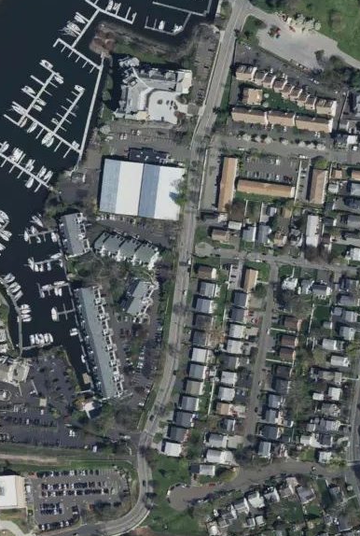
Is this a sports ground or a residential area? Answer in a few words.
residential area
